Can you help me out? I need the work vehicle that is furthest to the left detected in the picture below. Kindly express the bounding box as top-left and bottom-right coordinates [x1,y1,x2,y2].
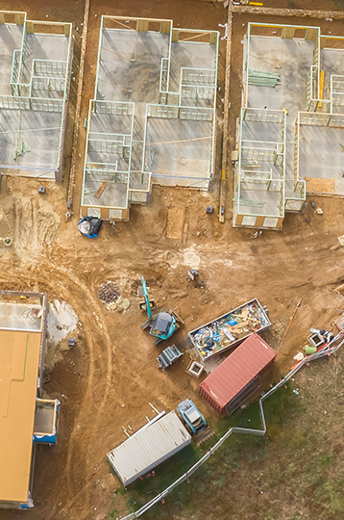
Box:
[139,273,187,349]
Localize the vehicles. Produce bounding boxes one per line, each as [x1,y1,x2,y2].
[139,273,187,349]
[171,395,215,447]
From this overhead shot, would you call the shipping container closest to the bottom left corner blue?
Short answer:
No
